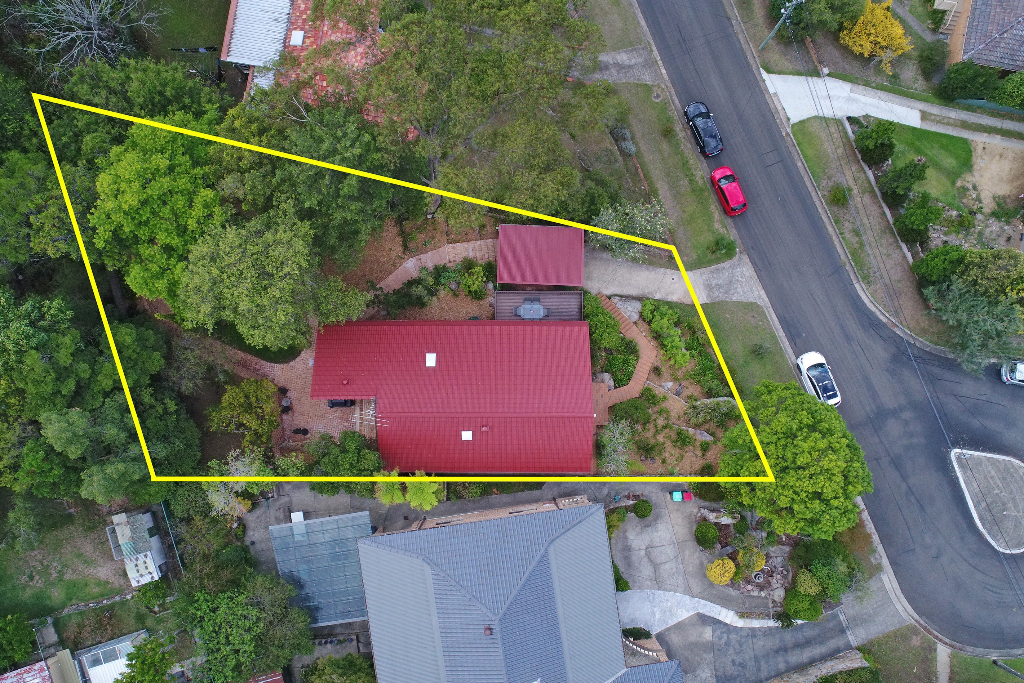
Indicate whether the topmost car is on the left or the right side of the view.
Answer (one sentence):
It is on the right.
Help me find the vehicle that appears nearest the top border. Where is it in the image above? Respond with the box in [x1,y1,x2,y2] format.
[685,99,725,161]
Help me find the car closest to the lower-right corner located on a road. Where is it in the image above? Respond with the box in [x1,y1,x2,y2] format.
[996,361,1024,385]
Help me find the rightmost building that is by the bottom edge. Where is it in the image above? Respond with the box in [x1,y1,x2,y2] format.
[355,492,684,683]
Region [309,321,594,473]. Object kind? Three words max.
house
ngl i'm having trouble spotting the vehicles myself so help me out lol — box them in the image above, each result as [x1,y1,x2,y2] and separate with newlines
[996,361,1024,385]
[799,349,848,411]
[711,165,747,219]
[685,99,725,161]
